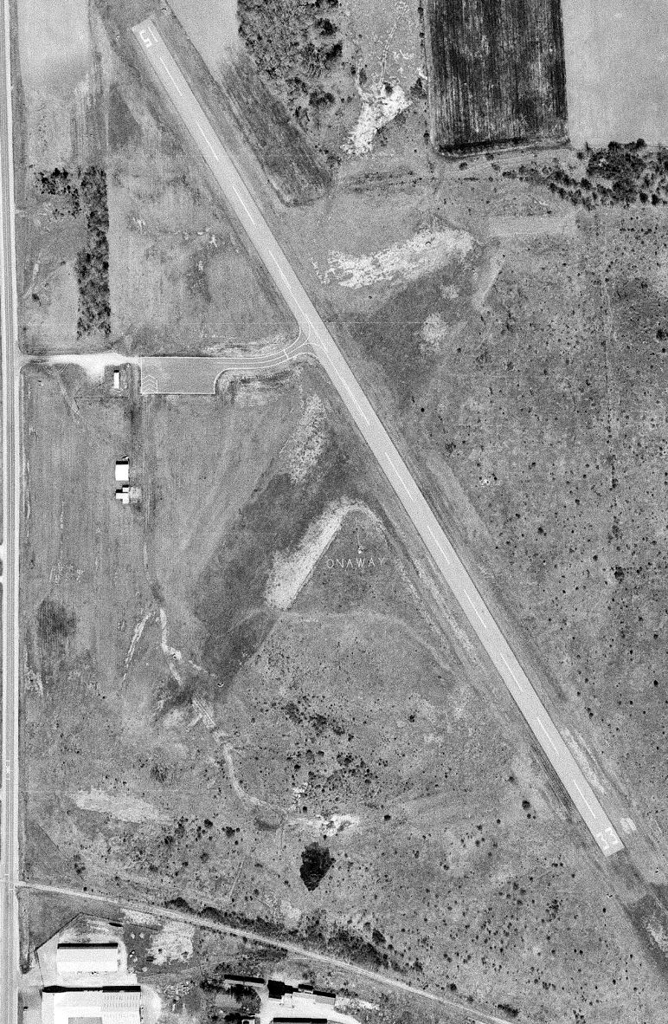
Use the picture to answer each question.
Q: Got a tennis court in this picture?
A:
No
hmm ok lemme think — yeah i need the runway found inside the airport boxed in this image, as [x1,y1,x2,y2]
[132,18,624,856]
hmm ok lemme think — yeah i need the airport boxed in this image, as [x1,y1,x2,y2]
[132,18,624,856]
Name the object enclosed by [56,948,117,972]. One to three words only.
building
